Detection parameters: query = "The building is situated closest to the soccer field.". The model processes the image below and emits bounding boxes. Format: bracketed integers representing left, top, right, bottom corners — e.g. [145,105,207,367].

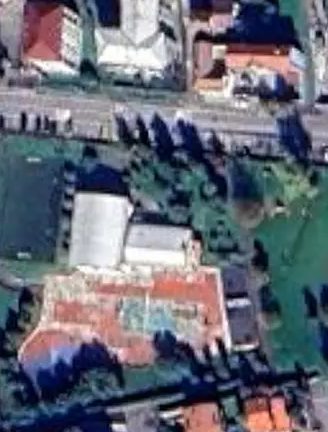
[69,194,141,272]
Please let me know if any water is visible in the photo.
No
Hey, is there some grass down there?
Yes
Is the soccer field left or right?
left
